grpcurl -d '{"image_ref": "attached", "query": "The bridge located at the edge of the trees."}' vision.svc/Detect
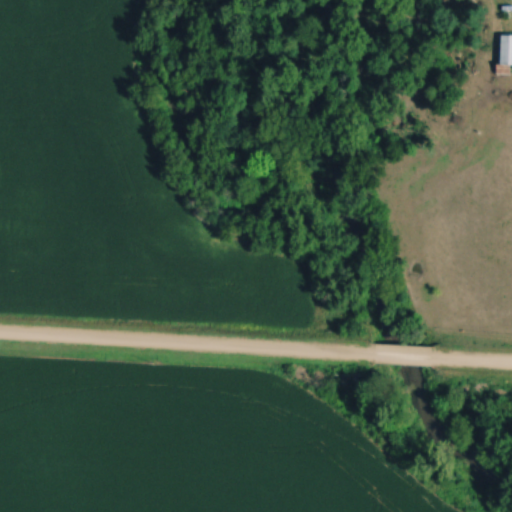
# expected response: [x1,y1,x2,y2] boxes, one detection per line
[372,344,437,367]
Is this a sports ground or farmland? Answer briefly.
farmland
